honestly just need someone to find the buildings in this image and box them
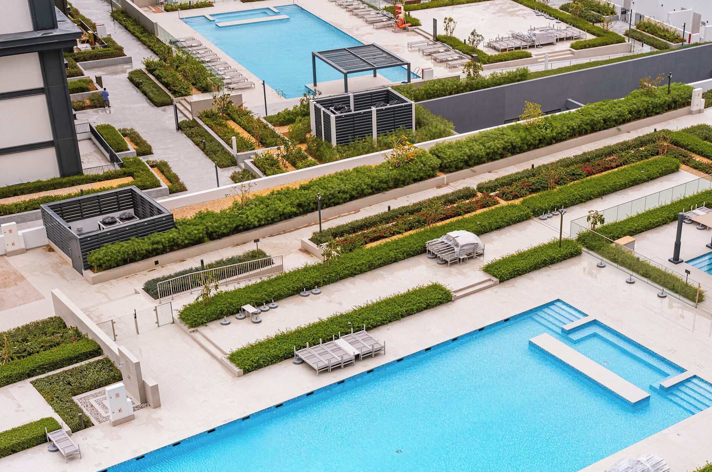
[609,0,712,40]
[0,0,84,189]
